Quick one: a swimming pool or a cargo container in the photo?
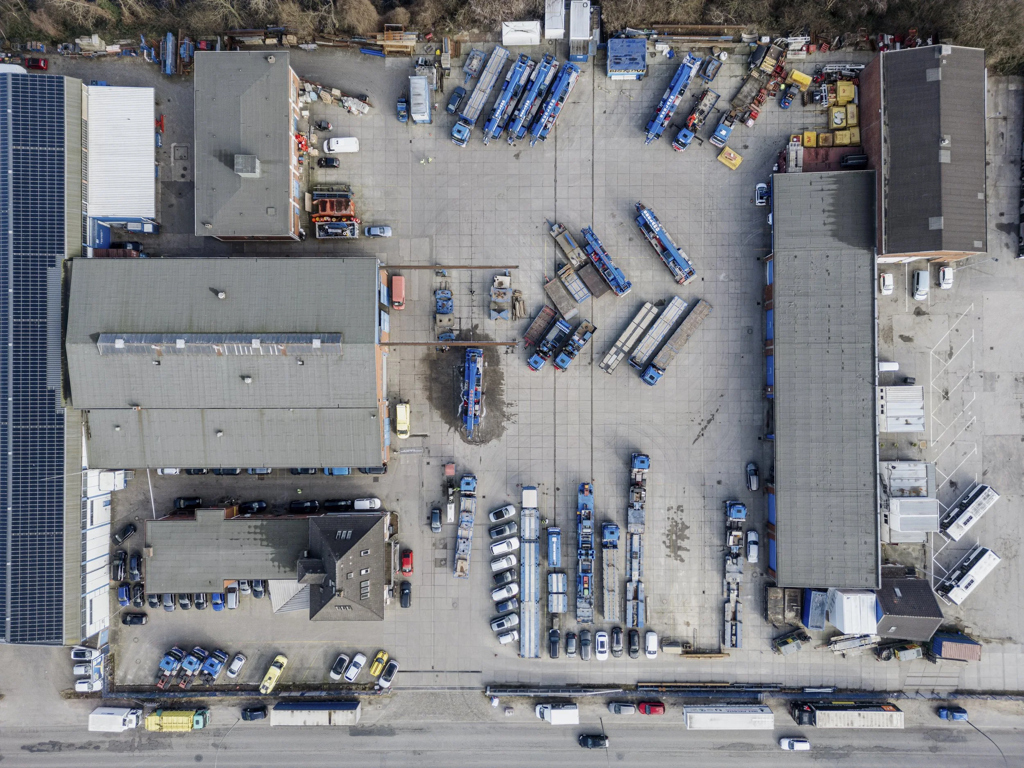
cargo container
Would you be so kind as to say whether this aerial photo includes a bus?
Yes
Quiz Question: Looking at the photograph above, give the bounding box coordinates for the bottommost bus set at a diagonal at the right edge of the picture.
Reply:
[939,545,1001,607]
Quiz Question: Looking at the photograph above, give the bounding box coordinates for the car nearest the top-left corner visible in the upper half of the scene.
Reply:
[25,56,50,71]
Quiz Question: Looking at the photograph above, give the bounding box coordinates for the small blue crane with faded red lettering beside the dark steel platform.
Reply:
[580,228,630,297]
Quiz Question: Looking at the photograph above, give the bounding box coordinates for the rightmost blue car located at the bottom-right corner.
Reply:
[937,706,968,721]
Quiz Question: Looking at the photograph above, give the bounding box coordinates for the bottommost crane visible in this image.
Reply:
[460,349,483,438]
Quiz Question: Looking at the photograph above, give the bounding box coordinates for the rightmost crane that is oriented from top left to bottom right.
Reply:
[634,201,697,287]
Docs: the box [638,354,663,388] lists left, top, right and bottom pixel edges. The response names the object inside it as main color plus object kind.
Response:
blue truck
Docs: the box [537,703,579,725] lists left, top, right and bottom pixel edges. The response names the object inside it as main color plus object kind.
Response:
white vehicle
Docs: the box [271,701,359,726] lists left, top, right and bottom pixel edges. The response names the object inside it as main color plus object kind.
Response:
white trailer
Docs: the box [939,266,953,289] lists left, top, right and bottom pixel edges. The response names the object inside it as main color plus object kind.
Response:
white car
